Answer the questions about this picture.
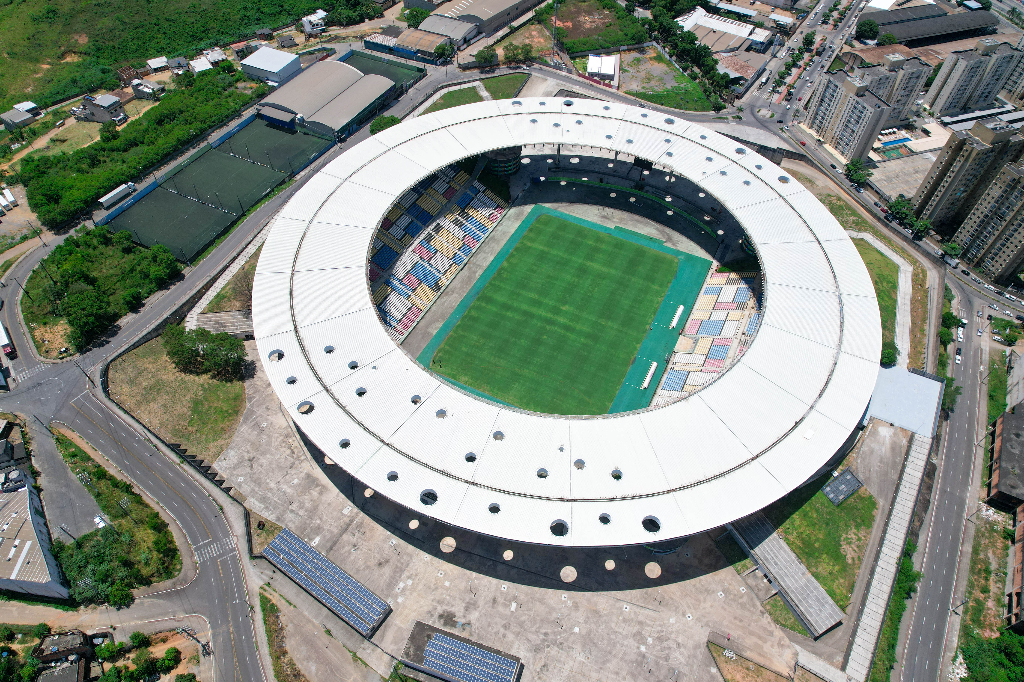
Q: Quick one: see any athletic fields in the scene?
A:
Yes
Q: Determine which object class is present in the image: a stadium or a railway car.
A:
stadium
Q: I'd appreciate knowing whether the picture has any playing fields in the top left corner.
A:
Yes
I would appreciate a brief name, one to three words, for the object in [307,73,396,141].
building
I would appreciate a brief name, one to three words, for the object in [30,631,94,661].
house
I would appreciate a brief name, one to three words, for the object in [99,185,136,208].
truck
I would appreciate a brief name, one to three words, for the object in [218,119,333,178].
sports field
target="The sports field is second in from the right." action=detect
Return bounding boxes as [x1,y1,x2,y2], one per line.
[339,55,419,87]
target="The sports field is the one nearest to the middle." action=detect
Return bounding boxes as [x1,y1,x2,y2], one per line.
[430,214,679,415]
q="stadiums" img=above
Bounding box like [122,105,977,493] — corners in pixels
[251,97,886,561]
